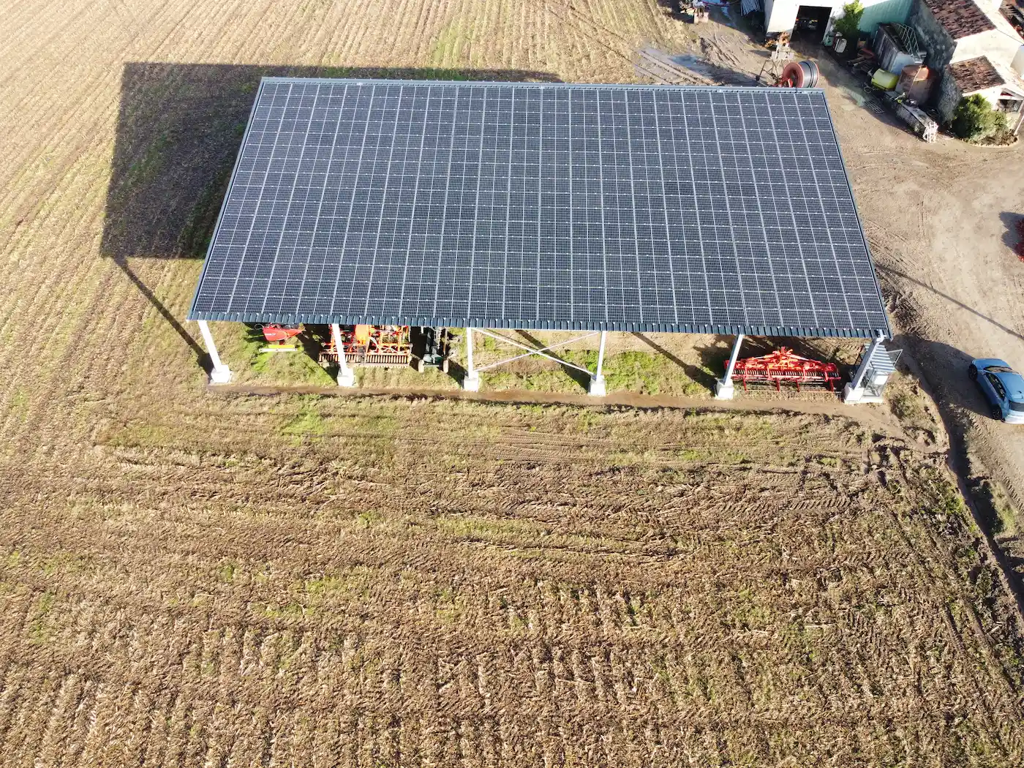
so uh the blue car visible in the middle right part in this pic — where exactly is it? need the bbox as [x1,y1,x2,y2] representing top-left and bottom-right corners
[970,360,1024,425]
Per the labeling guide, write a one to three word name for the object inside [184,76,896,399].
hangar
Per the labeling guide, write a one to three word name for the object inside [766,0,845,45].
barn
